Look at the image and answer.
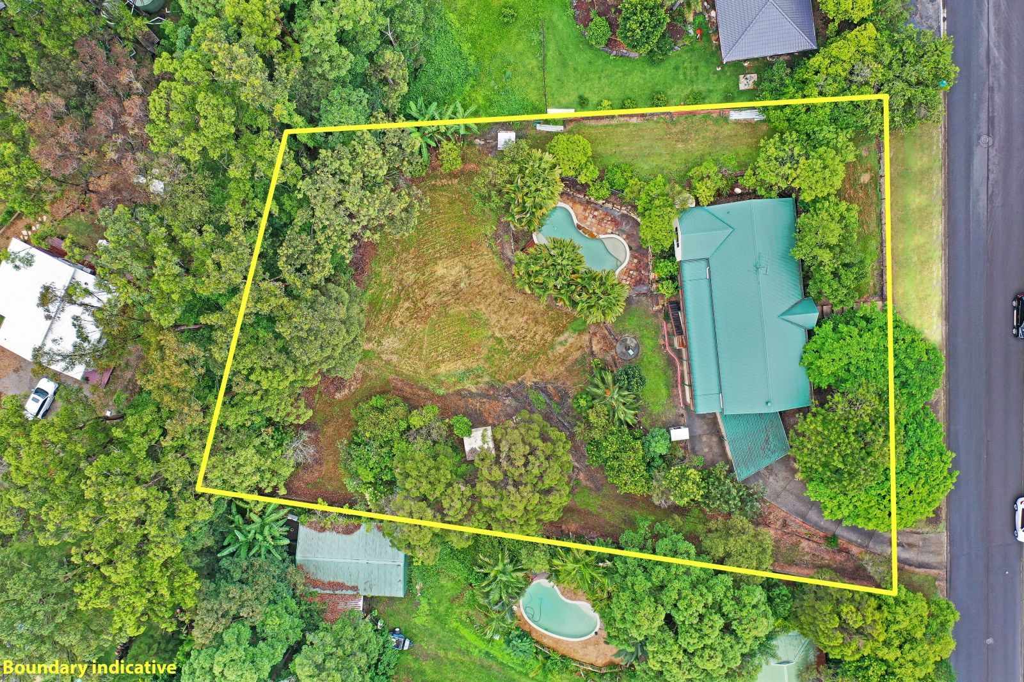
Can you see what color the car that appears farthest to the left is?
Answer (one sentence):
The color of the car that appears farthest to the left is white.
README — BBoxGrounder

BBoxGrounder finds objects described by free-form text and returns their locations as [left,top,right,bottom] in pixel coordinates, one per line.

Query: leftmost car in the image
[21,374,62,421]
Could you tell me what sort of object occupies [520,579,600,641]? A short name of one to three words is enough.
swimming pool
